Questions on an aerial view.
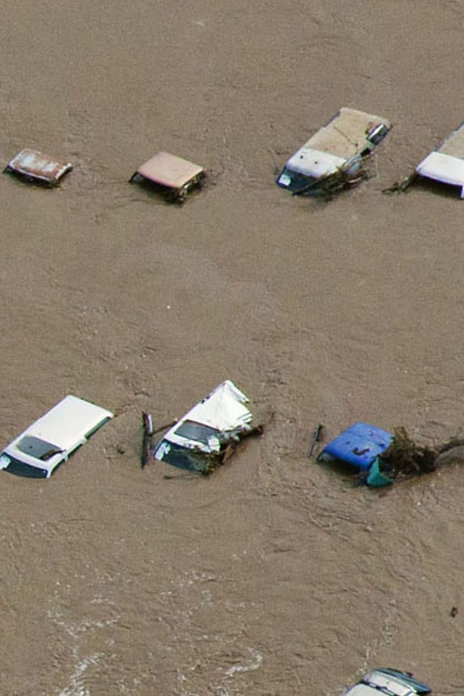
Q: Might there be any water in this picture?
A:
Yes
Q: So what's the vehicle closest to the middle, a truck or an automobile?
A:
automobile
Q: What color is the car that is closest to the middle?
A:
white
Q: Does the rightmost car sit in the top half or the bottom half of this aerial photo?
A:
top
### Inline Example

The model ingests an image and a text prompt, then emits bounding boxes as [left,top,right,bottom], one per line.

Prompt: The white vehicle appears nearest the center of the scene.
[153,380,253,477]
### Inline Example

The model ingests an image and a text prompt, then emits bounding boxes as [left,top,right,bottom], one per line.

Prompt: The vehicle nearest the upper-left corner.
[4,149,73,191]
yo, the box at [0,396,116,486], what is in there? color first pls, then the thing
white car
